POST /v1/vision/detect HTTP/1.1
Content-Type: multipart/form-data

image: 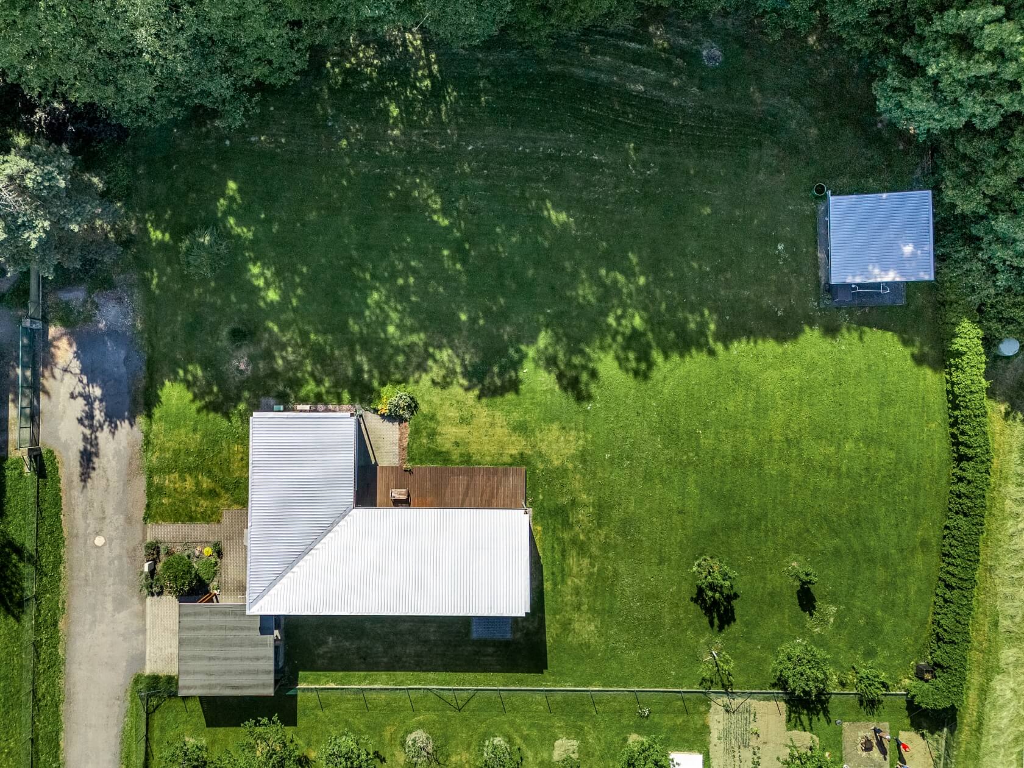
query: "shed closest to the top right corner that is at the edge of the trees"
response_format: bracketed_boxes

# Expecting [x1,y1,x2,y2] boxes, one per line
[819,190,935,286]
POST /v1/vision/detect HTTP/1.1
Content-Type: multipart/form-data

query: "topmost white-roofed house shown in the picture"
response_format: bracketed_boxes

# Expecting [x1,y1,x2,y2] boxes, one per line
[238,412,530,616]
